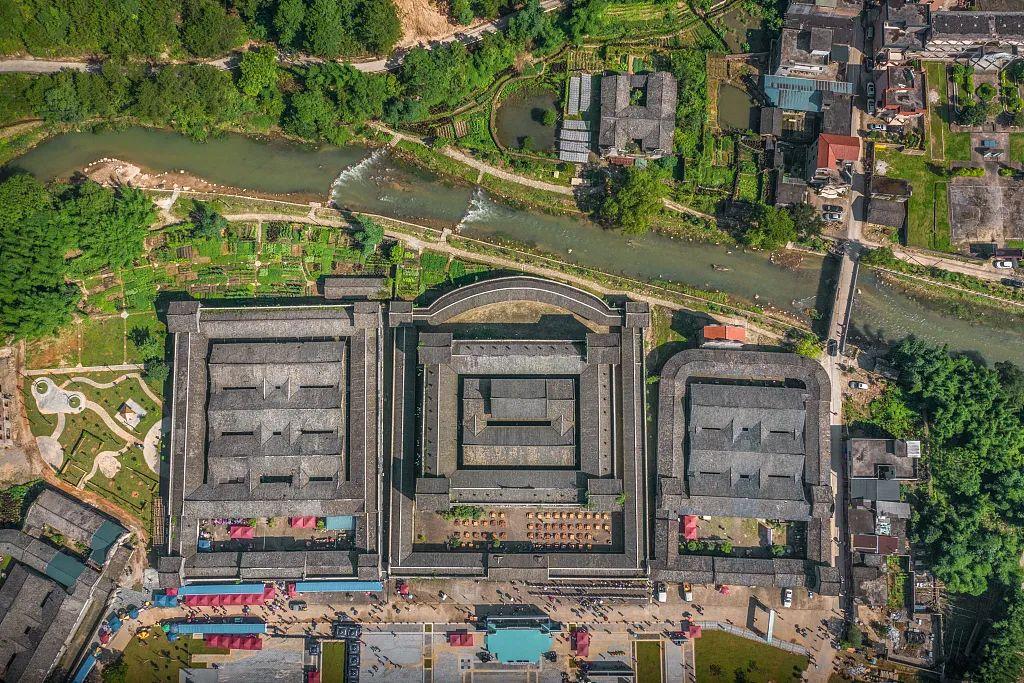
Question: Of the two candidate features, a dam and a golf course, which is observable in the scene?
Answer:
dam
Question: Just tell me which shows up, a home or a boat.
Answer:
home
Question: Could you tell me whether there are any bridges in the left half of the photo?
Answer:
No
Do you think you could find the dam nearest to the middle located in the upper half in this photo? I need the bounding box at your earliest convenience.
[455,186,495,237]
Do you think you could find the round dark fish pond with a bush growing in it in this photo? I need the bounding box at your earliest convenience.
[496,91,557,151]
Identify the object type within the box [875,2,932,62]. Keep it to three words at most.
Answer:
house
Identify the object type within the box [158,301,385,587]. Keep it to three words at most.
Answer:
building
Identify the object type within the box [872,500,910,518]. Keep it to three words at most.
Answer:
shed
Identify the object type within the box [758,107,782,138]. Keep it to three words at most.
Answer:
house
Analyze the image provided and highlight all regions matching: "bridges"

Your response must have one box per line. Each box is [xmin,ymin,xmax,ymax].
[829,246,860,347]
